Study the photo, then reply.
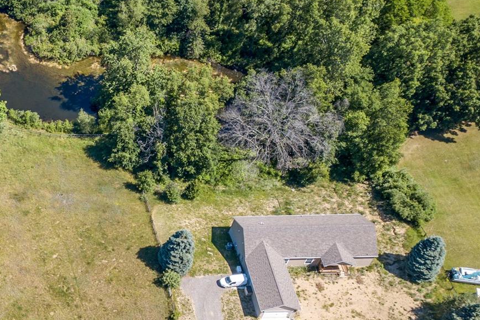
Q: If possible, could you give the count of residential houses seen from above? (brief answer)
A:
1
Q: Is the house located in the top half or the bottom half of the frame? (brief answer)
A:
bottom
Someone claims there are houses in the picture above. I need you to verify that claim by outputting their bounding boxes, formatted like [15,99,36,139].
[231,214,378,317]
